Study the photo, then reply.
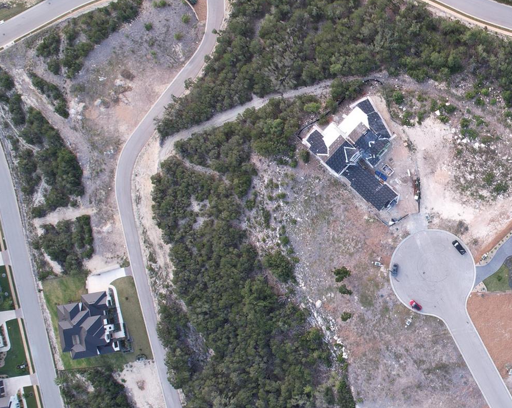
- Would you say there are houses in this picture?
Yes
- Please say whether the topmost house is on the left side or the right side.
right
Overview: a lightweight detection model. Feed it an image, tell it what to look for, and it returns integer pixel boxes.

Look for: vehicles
[408,300,424,313]
[391,262,399,277]
[451,239,466,256]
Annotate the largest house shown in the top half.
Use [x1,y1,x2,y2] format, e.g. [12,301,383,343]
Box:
[301,96,401,211]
